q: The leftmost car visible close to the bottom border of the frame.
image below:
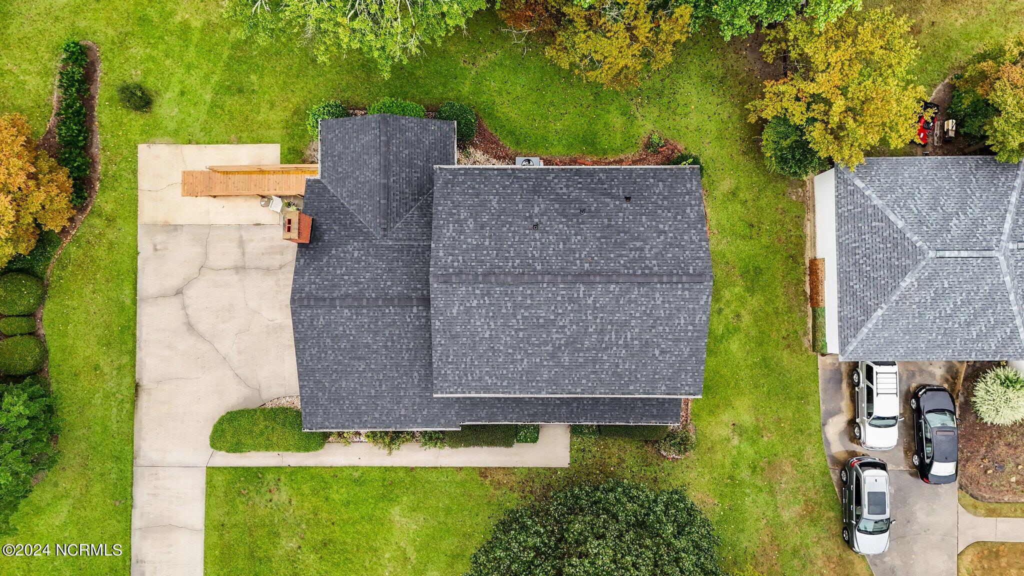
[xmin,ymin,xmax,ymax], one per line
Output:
[841,455,895,555]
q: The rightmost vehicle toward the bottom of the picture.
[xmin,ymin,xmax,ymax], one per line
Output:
[912,385,966,485]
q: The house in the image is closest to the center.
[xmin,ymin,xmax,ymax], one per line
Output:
[283,114,712,433]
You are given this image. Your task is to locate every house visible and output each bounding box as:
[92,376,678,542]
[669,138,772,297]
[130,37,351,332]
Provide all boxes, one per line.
[815,155,1024,361]
[283,114,712,433]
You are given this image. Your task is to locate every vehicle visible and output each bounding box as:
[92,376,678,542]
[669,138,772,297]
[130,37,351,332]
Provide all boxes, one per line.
[841,455,895,555]
[854,360,907,450]
[912,385,966,485]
